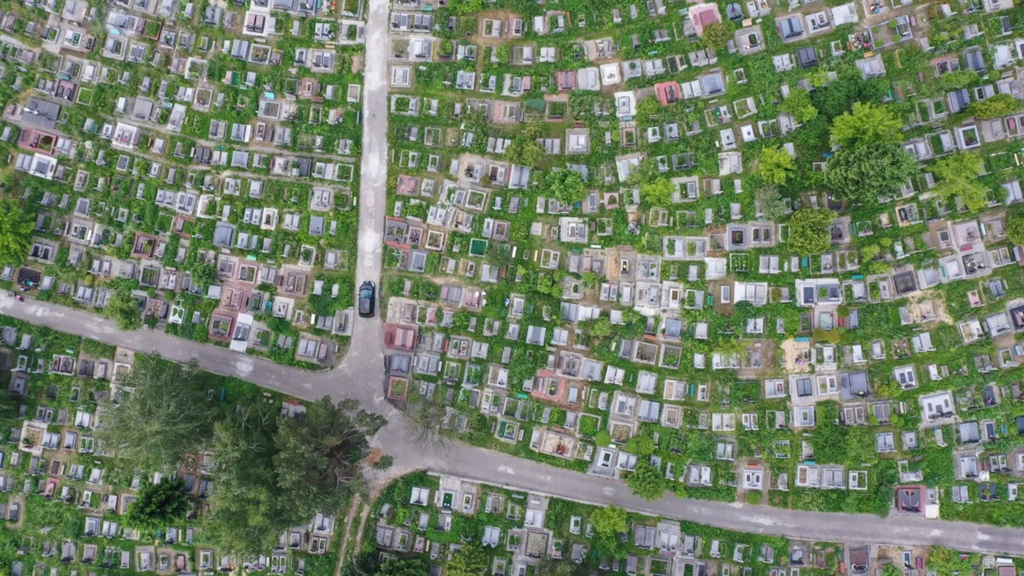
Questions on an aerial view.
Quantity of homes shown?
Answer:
zero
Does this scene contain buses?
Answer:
No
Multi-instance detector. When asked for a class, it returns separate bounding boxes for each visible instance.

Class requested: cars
[357,281,376,319]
